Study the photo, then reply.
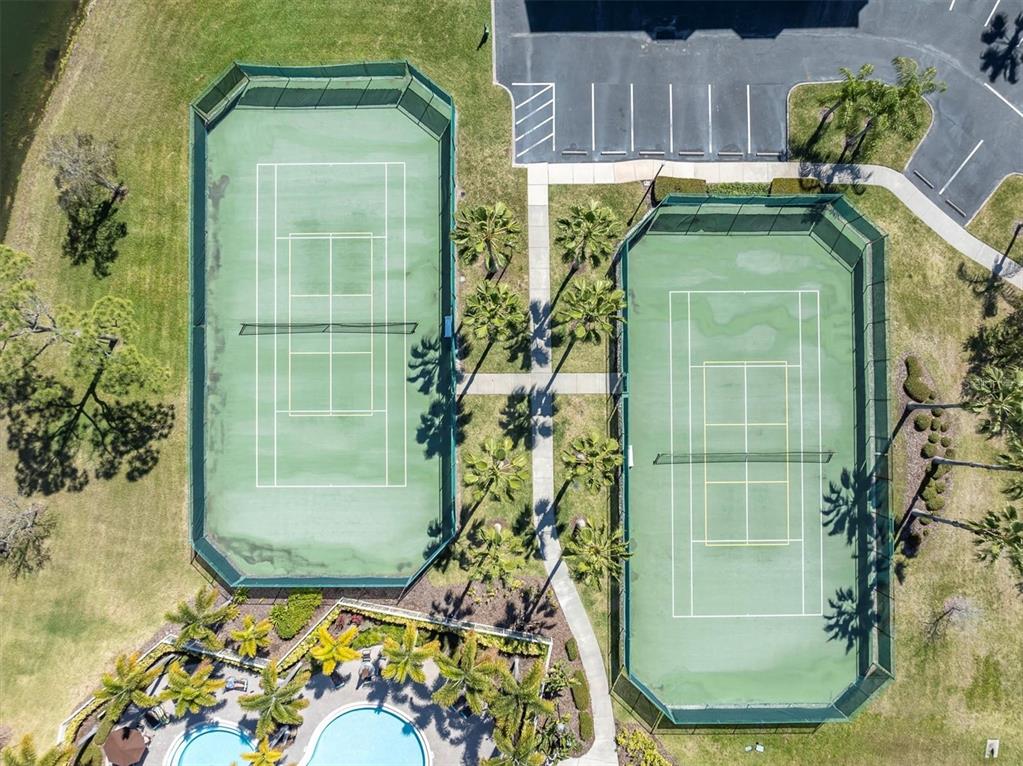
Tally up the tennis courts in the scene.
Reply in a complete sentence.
In total, there are 2 tennis courts in the scene.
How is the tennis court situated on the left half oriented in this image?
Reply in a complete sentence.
From this overhead view, the tennis court situated on the left half appears to run from top to bottom.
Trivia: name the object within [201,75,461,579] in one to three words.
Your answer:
tennis court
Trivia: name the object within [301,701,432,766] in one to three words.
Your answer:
swimming pool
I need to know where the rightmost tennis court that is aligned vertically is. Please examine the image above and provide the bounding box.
[618,200,876,709]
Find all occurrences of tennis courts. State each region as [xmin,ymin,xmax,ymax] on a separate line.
[201,75,461,579]
[618,200,876,709]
